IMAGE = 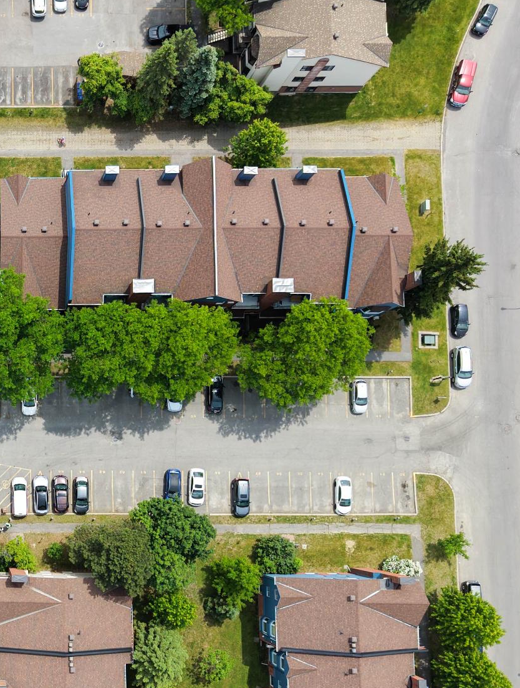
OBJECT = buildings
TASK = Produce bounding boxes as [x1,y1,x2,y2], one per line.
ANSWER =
[257,561,431,688]
[206,0,393,102]
[0,155,423,326]
[0,561,134,688]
